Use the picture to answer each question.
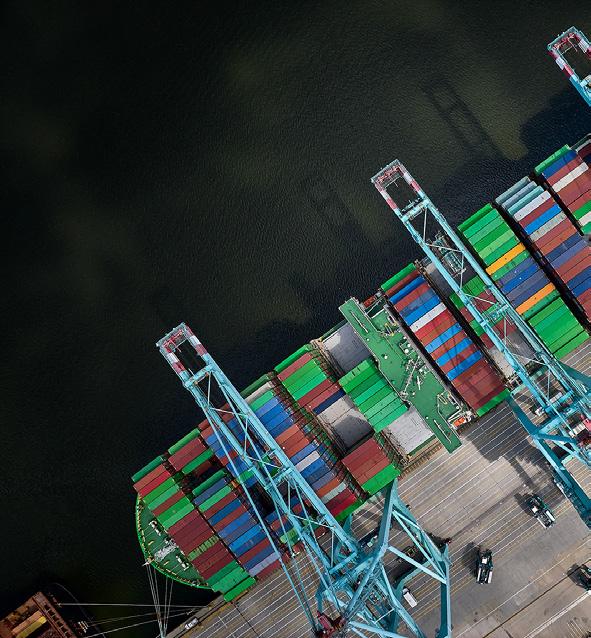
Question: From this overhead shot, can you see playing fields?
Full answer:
No, no playing field is visible in the view.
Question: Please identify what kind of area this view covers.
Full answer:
This image shows a port.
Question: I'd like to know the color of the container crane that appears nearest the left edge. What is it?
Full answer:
In this view, the container crane that appears nearest the left edge is blue.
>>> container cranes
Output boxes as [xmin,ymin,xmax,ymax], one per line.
[369,159,591,518]
[547,25,591,113]
[157,319,461,638]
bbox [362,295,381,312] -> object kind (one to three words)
boat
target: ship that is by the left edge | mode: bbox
[0,574,120,638]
